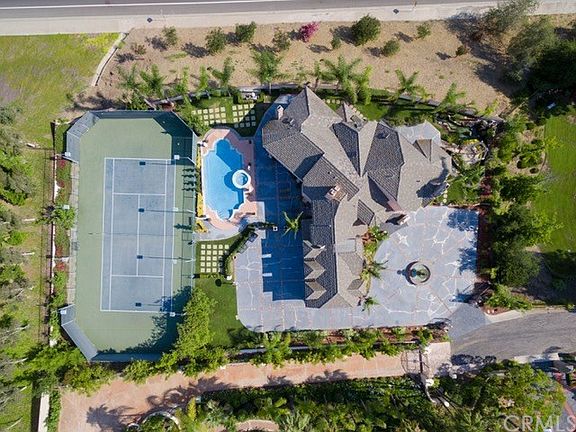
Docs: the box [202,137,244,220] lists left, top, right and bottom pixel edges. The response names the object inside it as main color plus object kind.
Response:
blue swimming pool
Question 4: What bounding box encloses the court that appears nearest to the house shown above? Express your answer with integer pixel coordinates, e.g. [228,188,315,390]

[76,117,196,353]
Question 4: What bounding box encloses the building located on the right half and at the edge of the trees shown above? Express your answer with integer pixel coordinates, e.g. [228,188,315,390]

[263,87,452,309]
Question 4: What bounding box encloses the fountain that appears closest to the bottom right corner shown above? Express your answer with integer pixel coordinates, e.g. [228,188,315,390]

[407,260,432,286]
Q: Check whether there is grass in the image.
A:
Yes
